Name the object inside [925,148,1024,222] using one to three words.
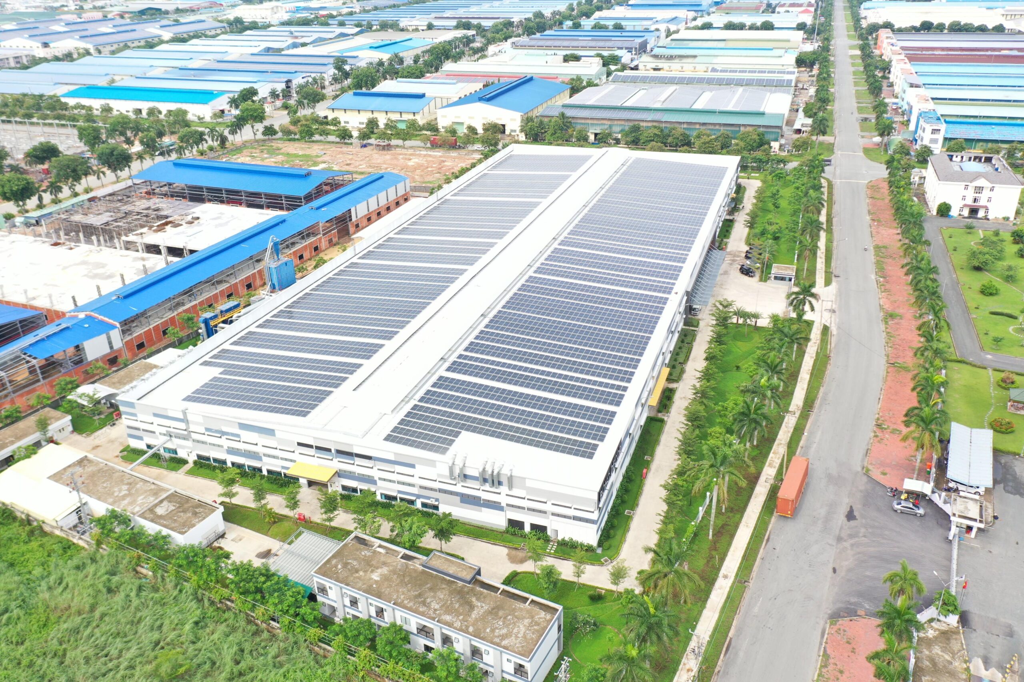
building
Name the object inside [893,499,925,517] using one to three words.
car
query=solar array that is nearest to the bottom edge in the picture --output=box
[523,157,727,306]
